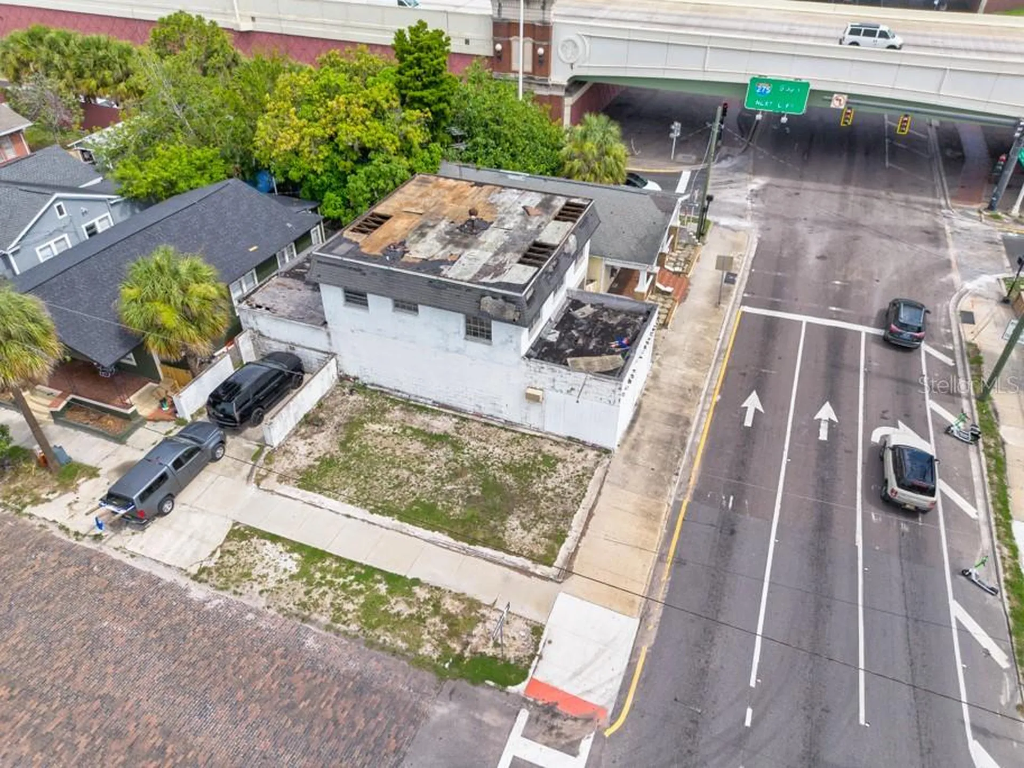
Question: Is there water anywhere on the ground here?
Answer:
No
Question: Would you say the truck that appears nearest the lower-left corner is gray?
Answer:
Yes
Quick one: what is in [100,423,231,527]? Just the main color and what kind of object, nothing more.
gray truck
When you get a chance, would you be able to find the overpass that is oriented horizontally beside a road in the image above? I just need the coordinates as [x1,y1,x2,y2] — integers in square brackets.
[0,0,1024,126]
